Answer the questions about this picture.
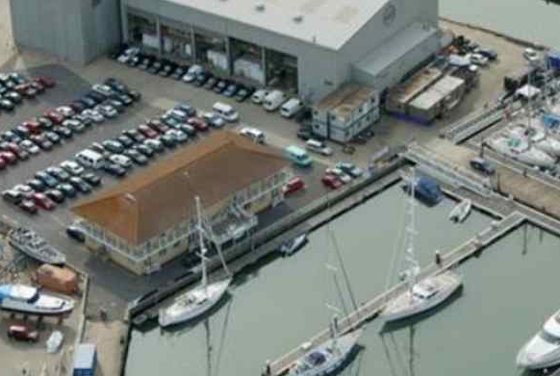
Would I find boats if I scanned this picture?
Yes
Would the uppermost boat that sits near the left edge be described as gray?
Yes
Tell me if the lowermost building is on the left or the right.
left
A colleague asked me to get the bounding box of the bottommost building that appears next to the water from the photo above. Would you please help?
[70,131,294,273]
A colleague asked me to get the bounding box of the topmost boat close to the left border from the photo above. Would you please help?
[1,228,67,266]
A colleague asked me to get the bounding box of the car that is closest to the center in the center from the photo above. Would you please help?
[286,179,304,192]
